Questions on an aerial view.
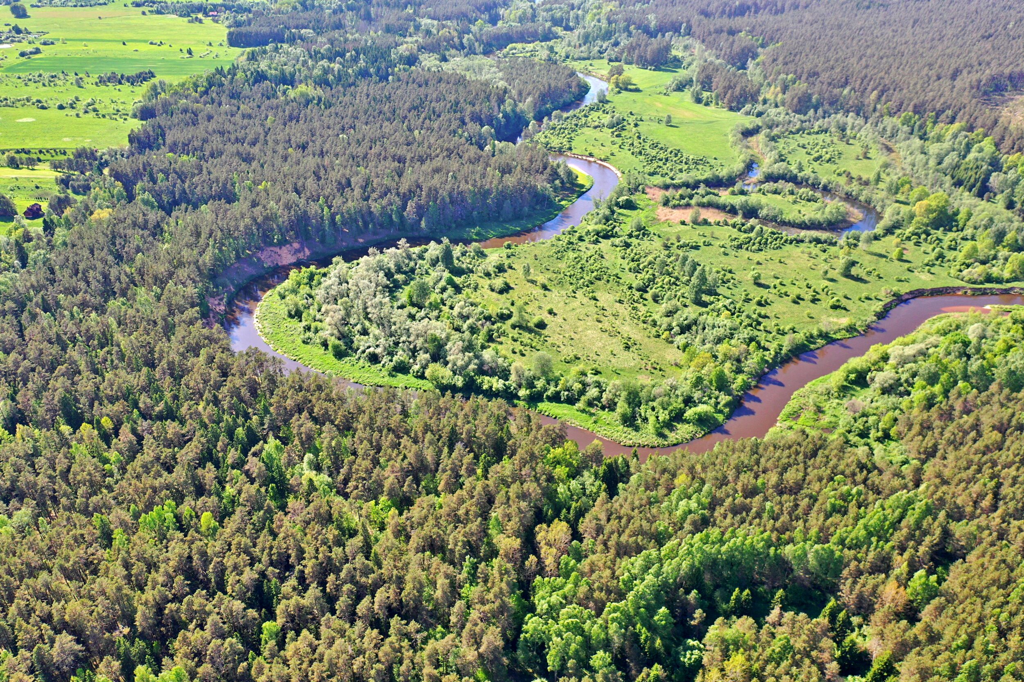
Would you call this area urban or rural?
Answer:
rural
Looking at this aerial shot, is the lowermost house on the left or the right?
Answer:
left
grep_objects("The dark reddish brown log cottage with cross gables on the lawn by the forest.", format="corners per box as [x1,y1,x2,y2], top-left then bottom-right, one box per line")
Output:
[17,200,45,224]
